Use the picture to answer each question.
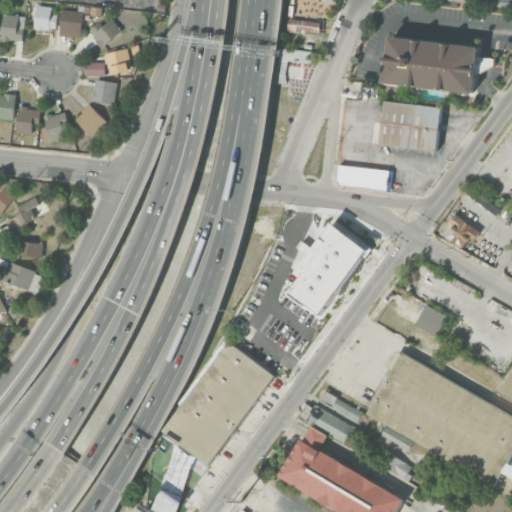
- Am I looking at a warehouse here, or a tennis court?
warehouse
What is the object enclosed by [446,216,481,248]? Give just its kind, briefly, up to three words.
building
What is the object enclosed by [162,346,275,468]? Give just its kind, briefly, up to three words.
warehouse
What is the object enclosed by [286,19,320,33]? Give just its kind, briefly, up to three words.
barn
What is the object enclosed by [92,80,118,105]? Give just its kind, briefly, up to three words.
house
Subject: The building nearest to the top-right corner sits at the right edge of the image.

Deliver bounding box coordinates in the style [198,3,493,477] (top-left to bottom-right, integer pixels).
[380,38,494,97]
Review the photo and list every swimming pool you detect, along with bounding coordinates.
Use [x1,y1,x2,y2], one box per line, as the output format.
[418,91,444,103]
